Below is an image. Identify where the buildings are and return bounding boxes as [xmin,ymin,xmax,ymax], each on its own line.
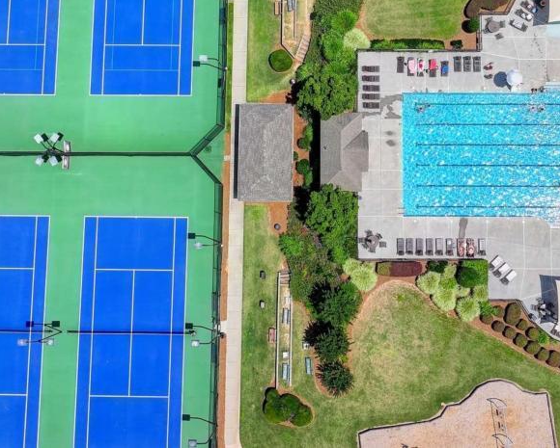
[236,103,292,201]
[320,112,370,192]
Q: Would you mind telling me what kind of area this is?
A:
sports ground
